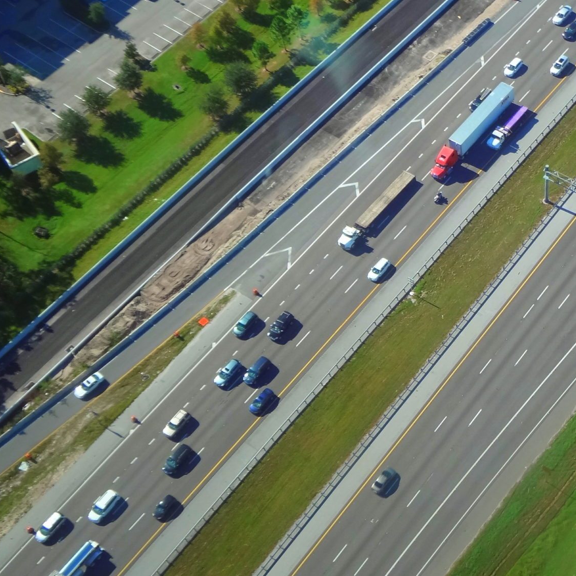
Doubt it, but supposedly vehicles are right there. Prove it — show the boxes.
[71,375,108,399]
[563,20,576,41]
[369,466,400,500]
[468,80,495,111]
[550,54,571,76]
[554,5,575,25]
[241,354,273,387]
[232,310,261,339]
[35,510,69,545]
[367,256,393,283]
[161,442,195,476]
[249,388,277,416]
[48,529,108,576]
[162,408,193,440]
[486,105,532,153]
[87,487,123,524]
[336,156,428,251]
[151,493,182,525]
[429,79,516,182]
[265,307,299,343]
[213,359,242,389]
[504,58,525,78]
